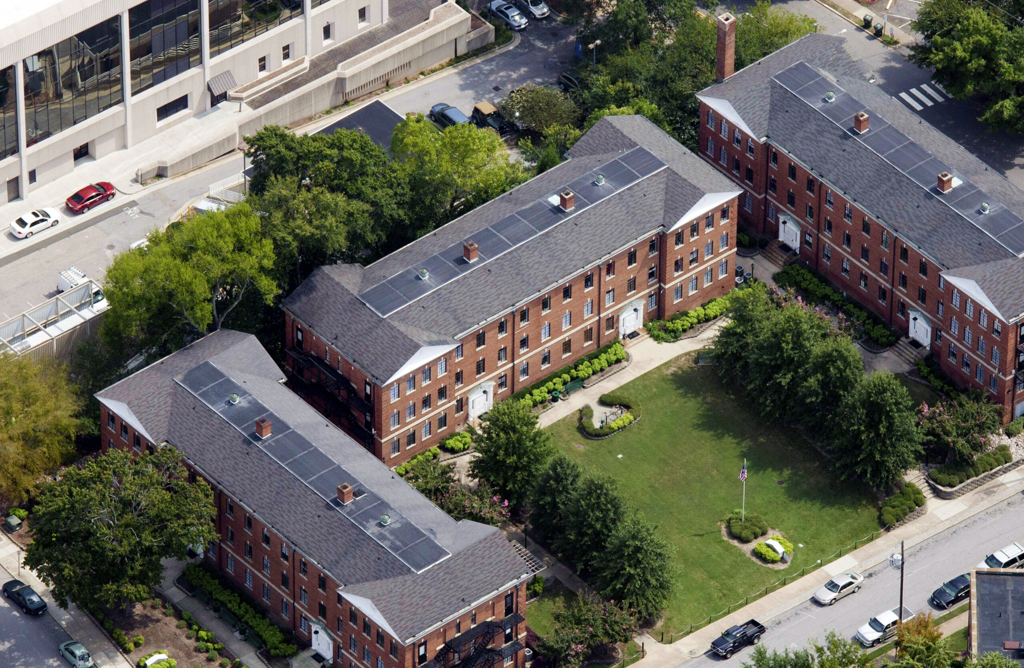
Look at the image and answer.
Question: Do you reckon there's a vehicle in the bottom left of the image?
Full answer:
Yes, the scene does show a vehicle in the bottom left of the image.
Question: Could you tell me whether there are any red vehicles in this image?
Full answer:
Yes, the picture does show a red vehicle.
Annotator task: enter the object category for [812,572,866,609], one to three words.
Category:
car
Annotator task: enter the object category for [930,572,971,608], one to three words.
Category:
car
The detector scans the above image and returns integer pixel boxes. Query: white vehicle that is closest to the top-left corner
[9,210,61,243]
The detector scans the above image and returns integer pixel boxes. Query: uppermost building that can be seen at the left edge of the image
[0,0,388,209]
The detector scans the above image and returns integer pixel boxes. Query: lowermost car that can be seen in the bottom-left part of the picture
[57,641,96,668]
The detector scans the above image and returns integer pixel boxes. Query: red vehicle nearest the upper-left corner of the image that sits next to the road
[65,185,116,218]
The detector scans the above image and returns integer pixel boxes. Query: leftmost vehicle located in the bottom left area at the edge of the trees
[0,582,49,620]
